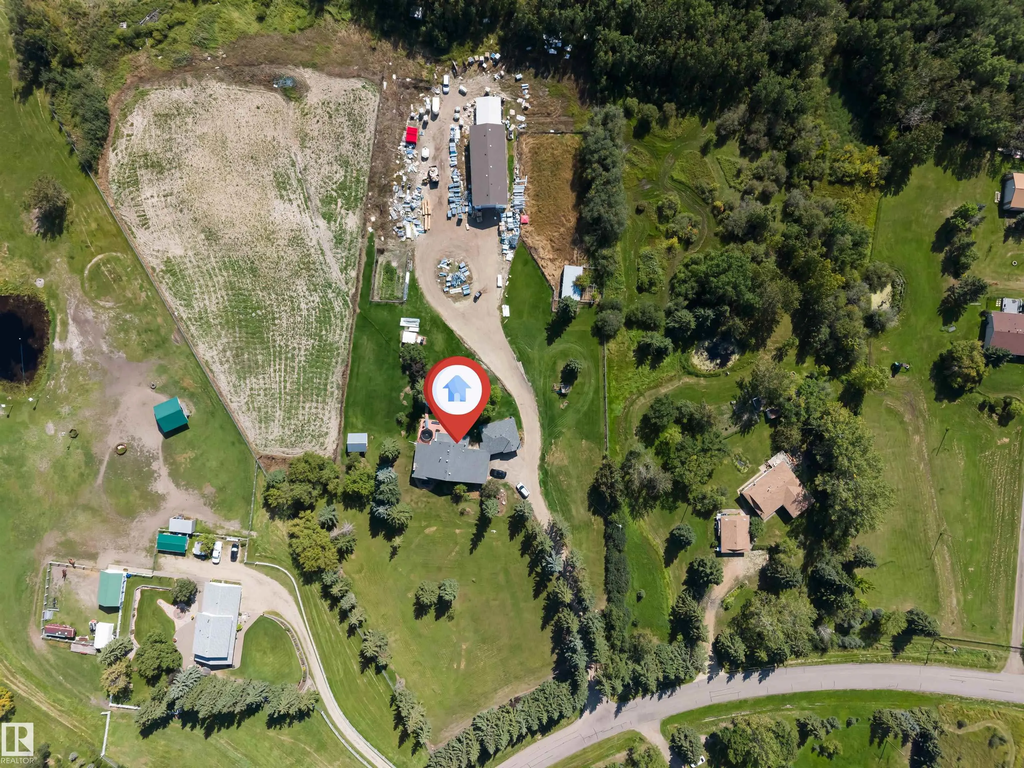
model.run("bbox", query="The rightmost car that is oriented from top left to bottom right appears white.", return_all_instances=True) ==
[517,482,530,498]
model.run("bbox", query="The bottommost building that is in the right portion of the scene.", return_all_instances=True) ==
[719,515,750,553]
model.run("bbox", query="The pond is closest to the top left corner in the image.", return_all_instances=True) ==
[0,295,51,384]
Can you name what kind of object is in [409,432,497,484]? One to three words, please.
house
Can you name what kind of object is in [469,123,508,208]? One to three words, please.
shed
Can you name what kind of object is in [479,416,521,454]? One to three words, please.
building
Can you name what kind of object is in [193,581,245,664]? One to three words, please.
house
